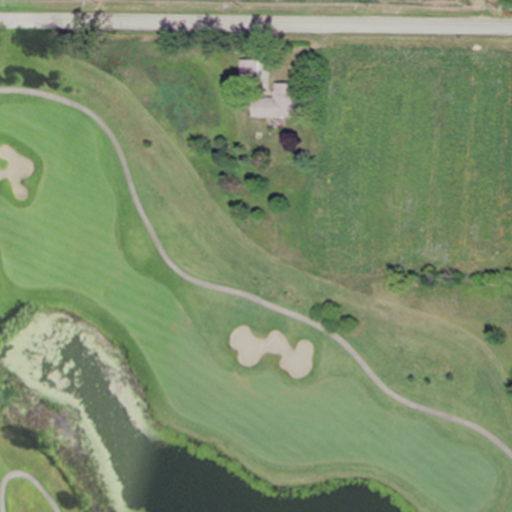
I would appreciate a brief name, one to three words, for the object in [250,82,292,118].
house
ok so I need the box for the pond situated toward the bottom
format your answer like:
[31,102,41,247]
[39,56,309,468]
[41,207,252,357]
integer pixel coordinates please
[2,312,393,512]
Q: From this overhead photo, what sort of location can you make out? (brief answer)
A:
golf course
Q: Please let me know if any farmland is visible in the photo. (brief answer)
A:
Yes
